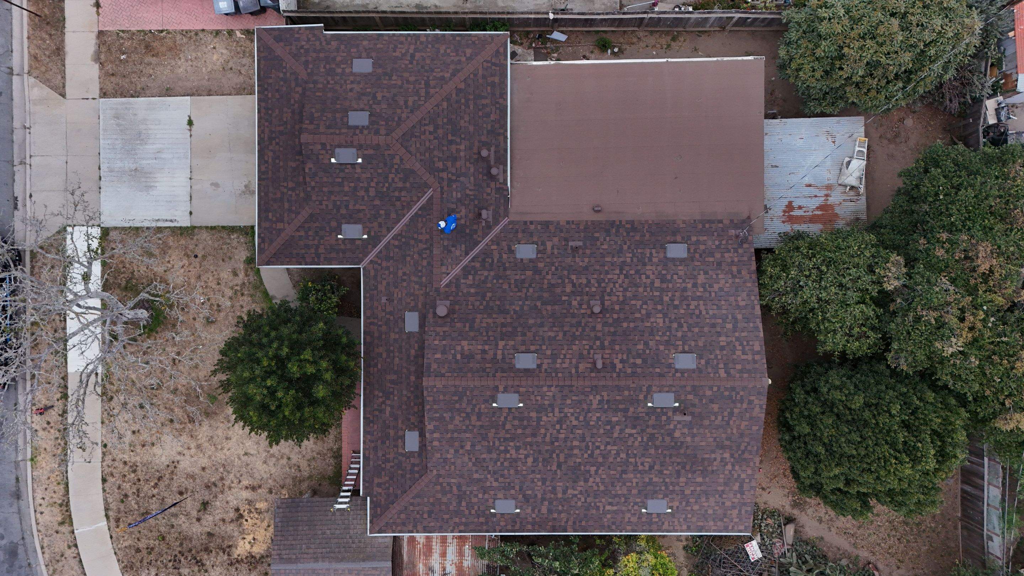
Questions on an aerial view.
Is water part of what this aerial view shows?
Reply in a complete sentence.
No, there is no water in the image.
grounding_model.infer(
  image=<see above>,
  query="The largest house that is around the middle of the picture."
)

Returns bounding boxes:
[254,23,772,537]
